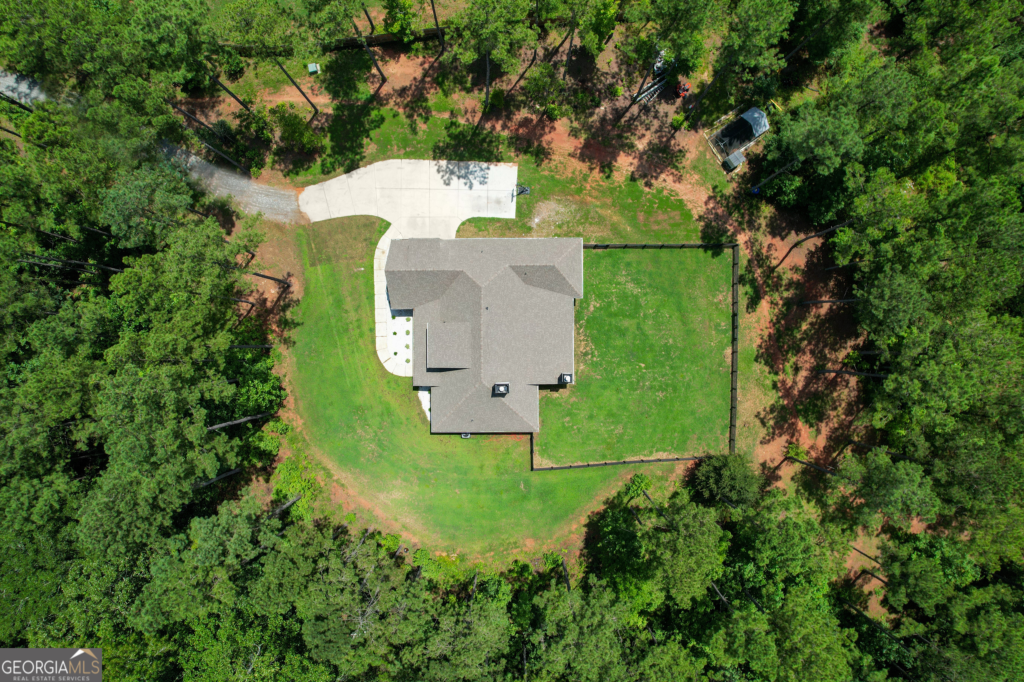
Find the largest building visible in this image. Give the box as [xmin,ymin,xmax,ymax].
[385,236,584,433]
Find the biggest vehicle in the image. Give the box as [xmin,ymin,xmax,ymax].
[675,80,694,99]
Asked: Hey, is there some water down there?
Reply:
No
